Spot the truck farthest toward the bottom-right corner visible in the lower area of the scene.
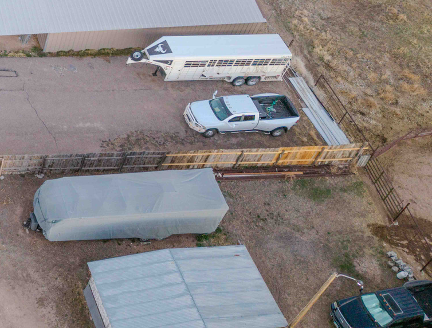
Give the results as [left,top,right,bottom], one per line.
[322,270,432,328]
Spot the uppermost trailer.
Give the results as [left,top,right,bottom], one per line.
[125,37,296,85]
